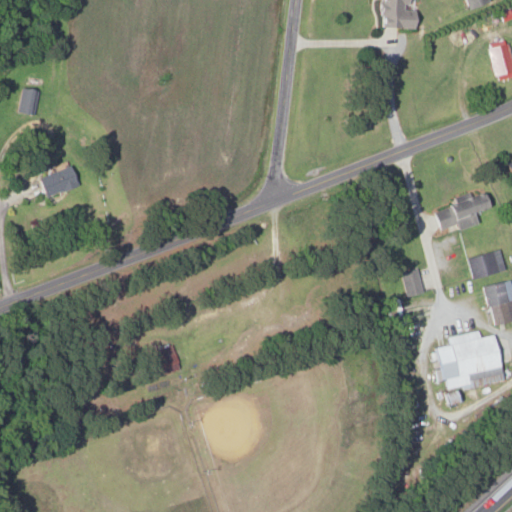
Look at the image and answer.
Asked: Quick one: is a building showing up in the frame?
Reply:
Yes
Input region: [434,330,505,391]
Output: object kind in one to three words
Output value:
building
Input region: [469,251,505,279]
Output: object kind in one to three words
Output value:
building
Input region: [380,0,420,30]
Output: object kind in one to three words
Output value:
house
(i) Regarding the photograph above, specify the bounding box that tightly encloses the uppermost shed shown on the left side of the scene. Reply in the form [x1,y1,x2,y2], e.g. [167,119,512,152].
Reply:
[17,86,39,115]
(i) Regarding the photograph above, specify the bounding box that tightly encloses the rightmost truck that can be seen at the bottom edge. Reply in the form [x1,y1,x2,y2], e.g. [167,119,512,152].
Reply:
[482,480,512,508]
